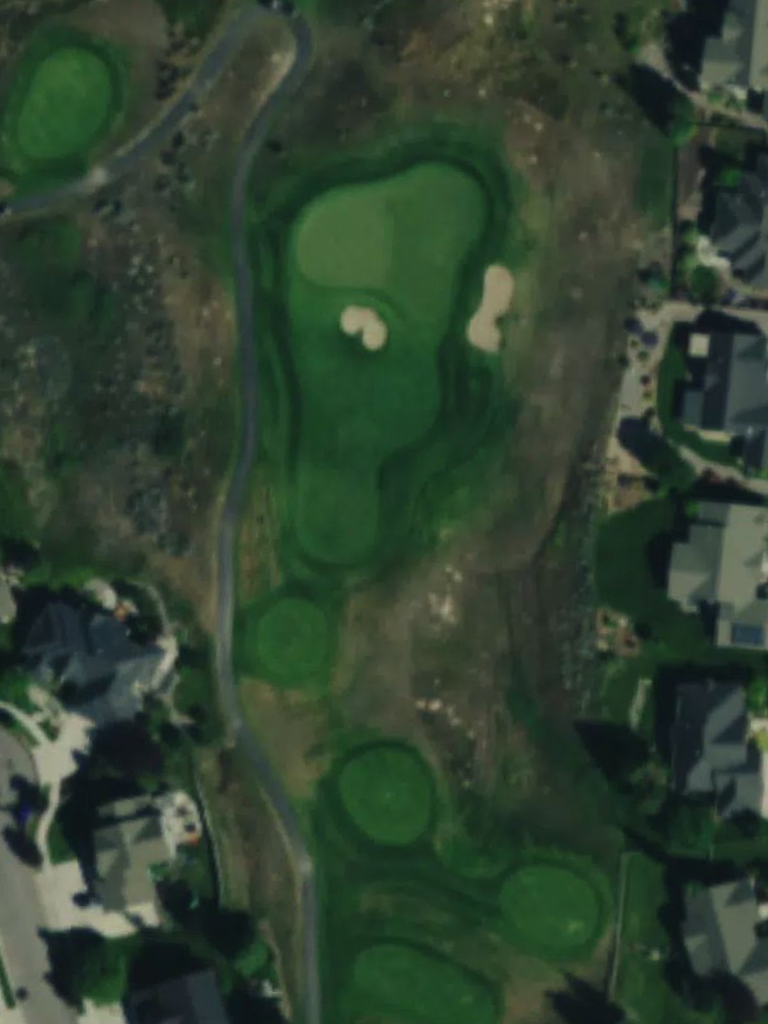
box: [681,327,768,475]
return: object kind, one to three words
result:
house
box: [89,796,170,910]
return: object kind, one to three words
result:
house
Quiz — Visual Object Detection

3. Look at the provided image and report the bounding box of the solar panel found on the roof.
[732,625,767,645]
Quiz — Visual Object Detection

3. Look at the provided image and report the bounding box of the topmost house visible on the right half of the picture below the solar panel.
[675,681,766,820]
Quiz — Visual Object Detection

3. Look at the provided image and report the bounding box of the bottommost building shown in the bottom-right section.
[679,877,768,1015]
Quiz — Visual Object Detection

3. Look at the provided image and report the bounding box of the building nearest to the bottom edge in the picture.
[127,967,232,1024]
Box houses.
[0,560,18,624]
[717,142,768,287]
[89,796,170,910]
[701,0,768,118]
[675,681,766,820]
[21,597,167,735]
[666,497,768,649]
[679,877,768,1015]
[681,327,768,475]
[127,967,232,1024]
